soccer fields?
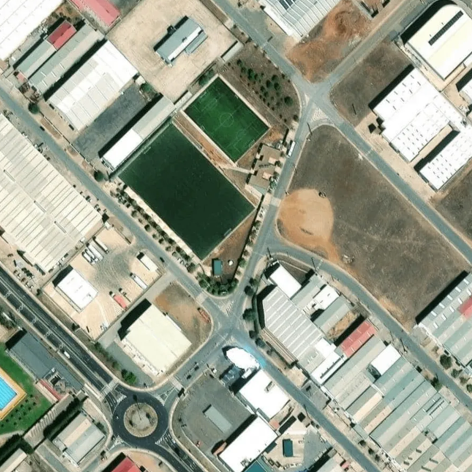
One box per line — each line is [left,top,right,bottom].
[179,73,273,165]
[111,119,260,266]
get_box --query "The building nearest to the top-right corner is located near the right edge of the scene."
[404,5,472,80]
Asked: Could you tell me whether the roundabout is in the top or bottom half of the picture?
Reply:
bottom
